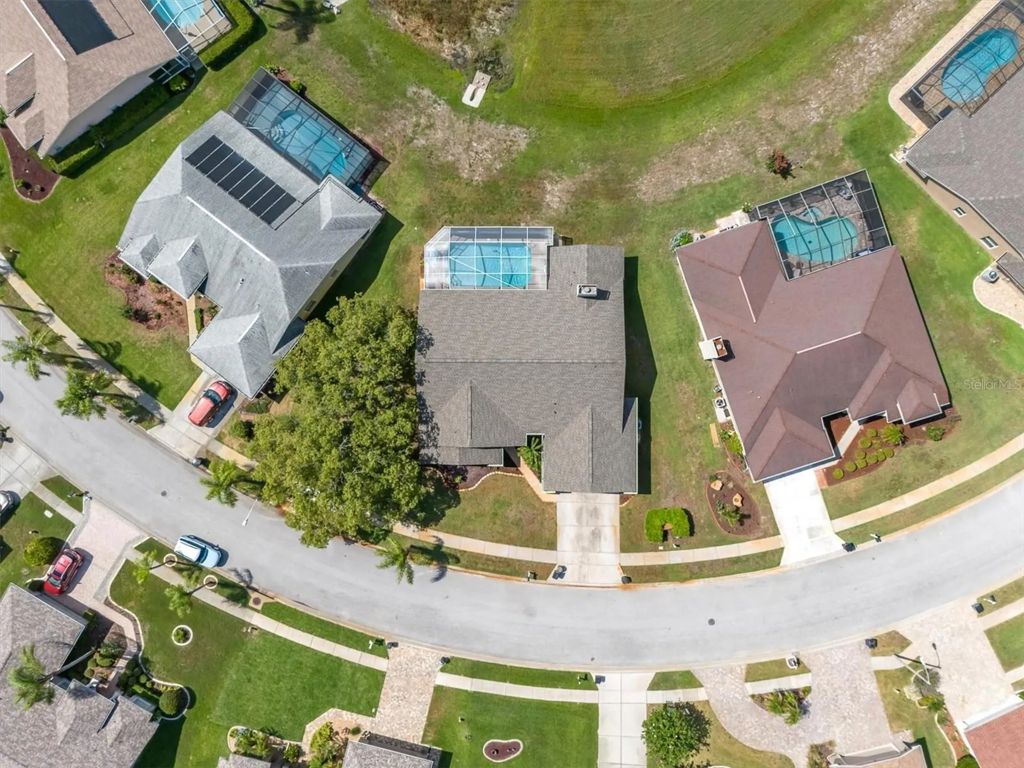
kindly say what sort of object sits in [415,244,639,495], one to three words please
house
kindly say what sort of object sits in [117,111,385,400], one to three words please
house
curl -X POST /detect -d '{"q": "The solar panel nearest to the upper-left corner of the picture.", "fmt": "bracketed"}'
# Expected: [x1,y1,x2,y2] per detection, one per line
[39,0,115,54]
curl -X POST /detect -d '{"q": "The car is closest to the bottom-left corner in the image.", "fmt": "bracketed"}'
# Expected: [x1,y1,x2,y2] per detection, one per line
[45,546,87,597]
